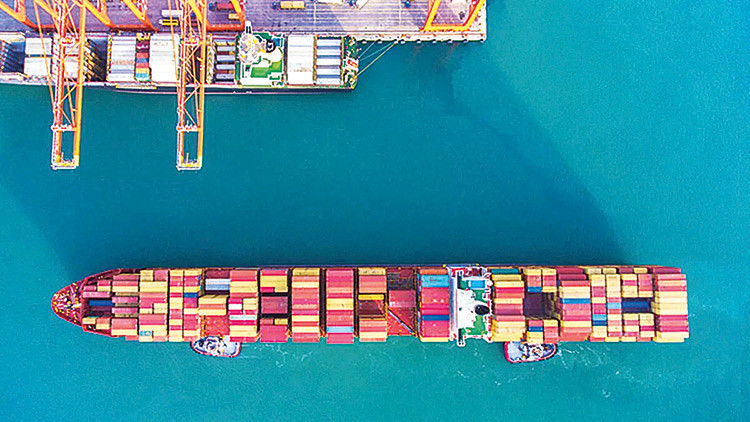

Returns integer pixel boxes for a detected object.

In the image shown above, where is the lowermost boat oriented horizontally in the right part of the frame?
[502,338,560,364]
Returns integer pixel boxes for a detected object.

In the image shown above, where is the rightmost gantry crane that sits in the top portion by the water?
[423,0,480,29]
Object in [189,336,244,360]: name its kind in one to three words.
boat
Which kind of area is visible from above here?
port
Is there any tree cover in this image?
No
